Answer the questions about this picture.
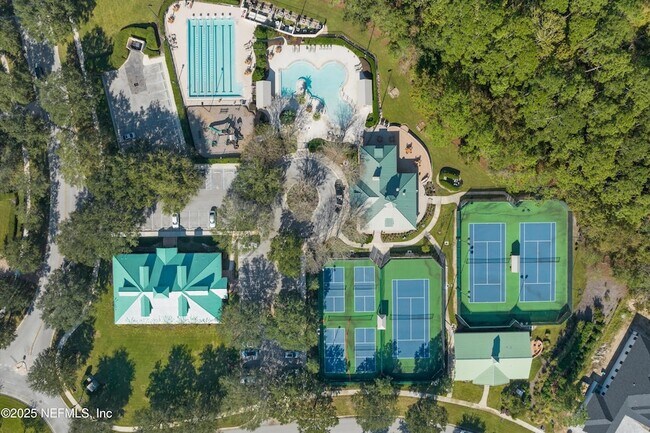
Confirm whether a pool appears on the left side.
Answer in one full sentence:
Yes, I can see a pool on the left side.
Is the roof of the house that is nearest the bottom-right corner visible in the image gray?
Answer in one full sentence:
Yes, the roof of the house that is nearest the bottom-right corner is indeed gray.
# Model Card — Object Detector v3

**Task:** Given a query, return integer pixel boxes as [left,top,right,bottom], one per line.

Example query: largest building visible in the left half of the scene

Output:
[114,248,229,324]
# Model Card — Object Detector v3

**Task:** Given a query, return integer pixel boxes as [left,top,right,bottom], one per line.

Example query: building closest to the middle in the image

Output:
[350,145,417,230]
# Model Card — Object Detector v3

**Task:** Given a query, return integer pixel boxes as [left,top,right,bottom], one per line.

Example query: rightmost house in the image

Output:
[581,330,650,433]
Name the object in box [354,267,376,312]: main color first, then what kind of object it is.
blue sports court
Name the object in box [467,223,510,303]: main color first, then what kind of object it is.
blue tennis court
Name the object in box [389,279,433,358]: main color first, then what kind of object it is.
blue tennis court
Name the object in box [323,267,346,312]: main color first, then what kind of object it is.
blue sports court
